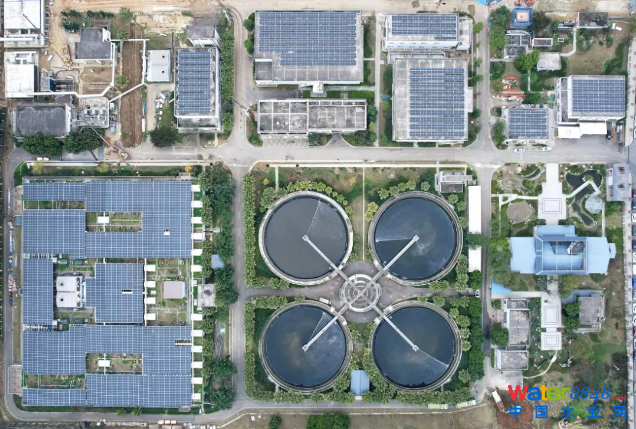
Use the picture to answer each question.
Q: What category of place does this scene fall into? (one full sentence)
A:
This image shows an industrial area.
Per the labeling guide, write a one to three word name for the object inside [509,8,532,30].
building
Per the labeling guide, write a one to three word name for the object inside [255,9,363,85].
building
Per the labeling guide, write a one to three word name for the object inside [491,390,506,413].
vehicle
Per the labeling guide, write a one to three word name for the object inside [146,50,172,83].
shed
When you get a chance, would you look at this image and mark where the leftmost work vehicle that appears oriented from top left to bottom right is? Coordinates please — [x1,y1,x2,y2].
[52,42,73,66]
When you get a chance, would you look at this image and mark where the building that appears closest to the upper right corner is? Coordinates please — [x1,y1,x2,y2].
[575,12,608,30]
